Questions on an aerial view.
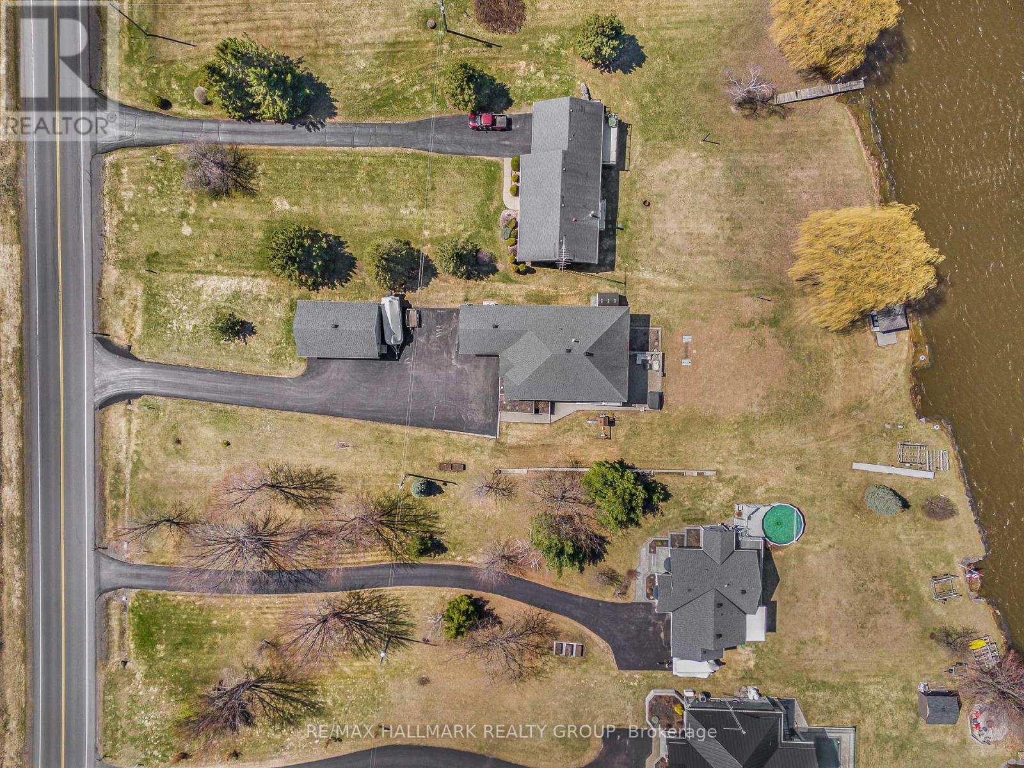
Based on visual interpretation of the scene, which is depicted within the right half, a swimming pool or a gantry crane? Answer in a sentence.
It is a swimming pool that can be seen within the right half.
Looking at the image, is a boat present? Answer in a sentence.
Yes, the frame does contain a boat.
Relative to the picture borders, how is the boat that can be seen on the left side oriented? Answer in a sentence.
From this overhead view, the boat that can be seen on the left side appears to run vertically.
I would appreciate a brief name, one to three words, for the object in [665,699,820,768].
house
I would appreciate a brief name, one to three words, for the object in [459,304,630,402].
house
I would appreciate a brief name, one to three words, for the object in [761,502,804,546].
swimming pool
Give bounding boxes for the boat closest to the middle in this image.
[382,293,403,359]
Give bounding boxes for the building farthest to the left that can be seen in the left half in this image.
[293,300,382,359]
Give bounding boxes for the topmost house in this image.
[517,97,604,264]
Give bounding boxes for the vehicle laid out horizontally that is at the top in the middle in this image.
[468,111,509,129]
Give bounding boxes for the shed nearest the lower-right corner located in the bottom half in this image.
[919,689,960,724]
